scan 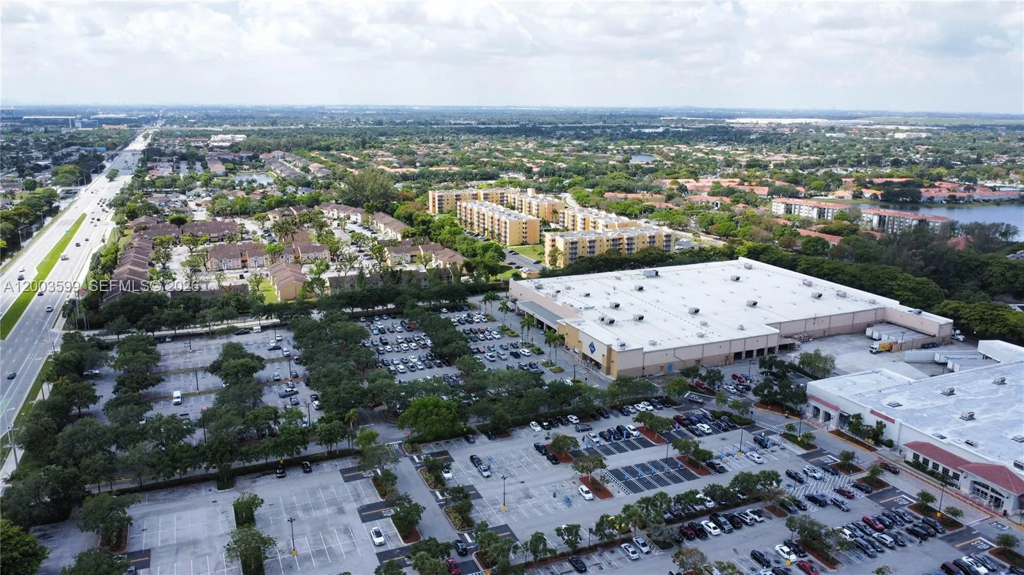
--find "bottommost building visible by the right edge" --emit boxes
[798,339,1024,524]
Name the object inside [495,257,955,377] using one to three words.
building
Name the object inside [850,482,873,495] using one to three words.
vehicle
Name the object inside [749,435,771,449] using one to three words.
vehicle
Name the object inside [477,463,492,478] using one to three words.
car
